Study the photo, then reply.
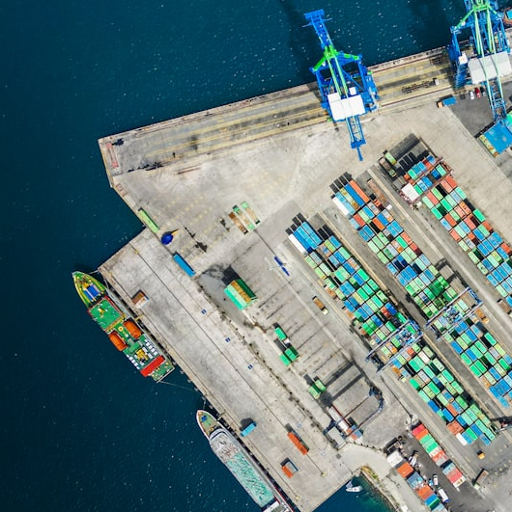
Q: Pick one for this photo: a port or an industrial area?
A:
port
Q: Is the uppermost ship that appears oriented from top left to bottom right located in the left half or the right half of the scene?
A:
left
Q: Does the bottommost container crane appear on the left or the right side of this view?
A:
right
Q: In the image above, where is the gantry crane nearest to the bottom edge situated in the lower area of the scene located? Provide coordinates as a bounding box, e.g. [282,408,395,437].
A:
[329,384,384,443]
